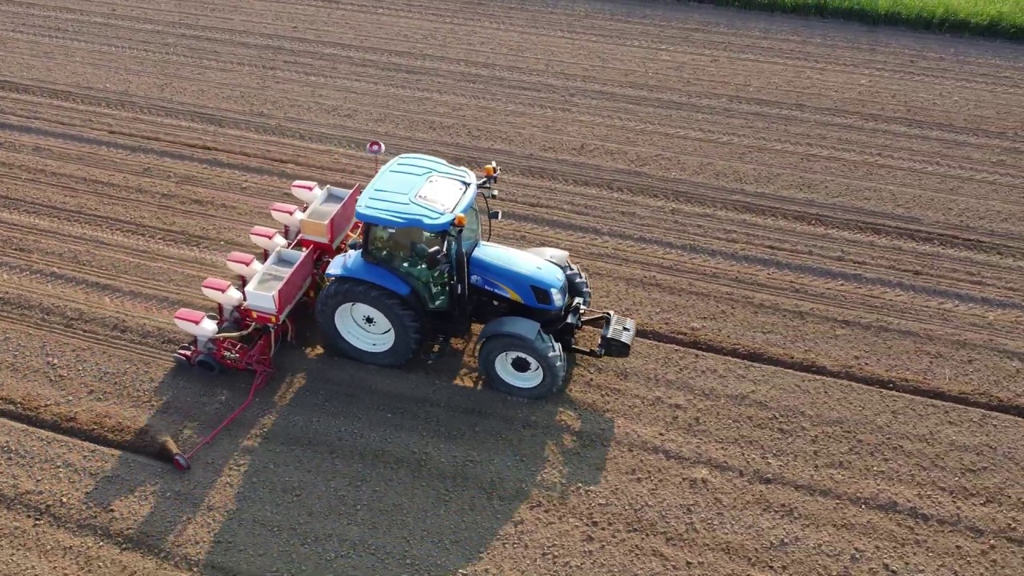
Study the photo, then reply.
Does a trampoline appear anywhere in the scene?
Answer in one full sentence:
No, this view has no trampoline in it.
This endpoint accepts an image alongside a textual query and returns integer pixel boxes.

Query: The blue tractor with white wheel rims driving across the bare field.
[314,155,605,398]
